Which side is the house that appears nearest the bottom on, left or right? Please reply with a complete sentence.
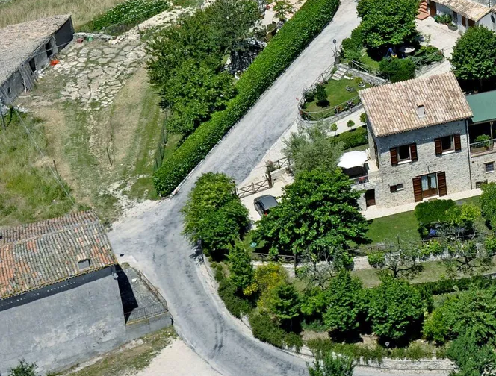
The house that appears nearest the bottom is on the left side of the image.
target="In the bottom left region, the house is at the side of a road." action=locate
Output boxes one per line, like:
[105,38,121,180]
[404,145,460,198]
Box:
[0,209,125,371]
